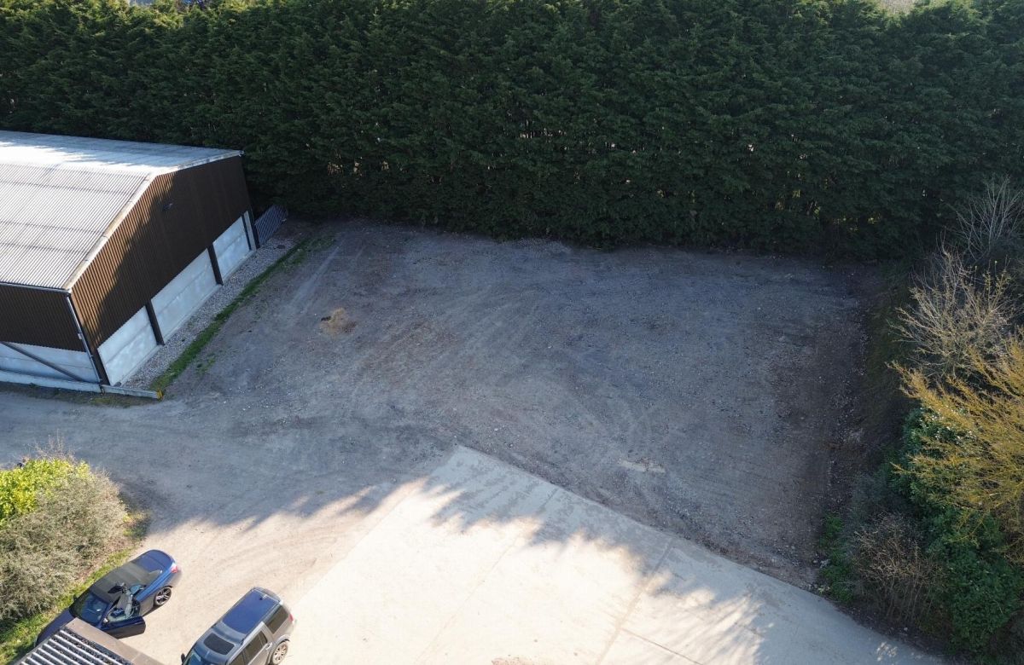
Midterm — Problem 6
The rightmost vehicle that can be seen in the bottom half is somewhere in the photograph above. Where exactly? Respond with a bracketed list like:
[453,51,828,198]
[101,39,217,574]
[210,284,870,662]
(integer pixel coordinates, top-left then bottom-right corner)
[184,585,304,665]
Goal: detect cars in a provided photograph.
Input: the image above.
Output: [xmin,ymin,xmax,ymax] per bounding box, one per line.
[47,549,182,638]
[184,585,304,665]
